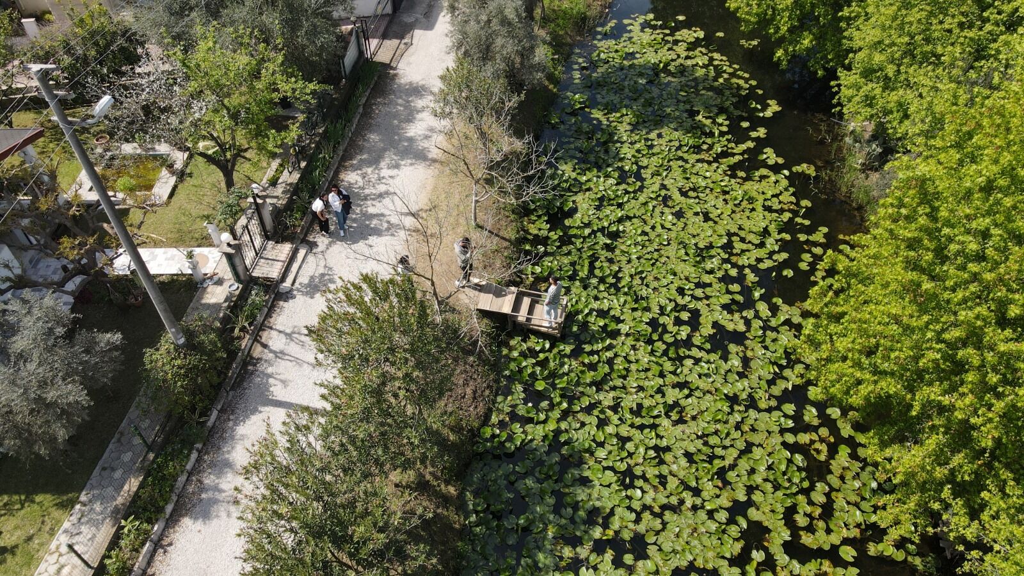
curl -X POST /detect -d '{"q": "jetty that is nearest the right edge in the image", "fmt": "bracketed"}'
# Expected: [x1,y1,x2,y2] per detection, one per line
[468,279,568,348]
